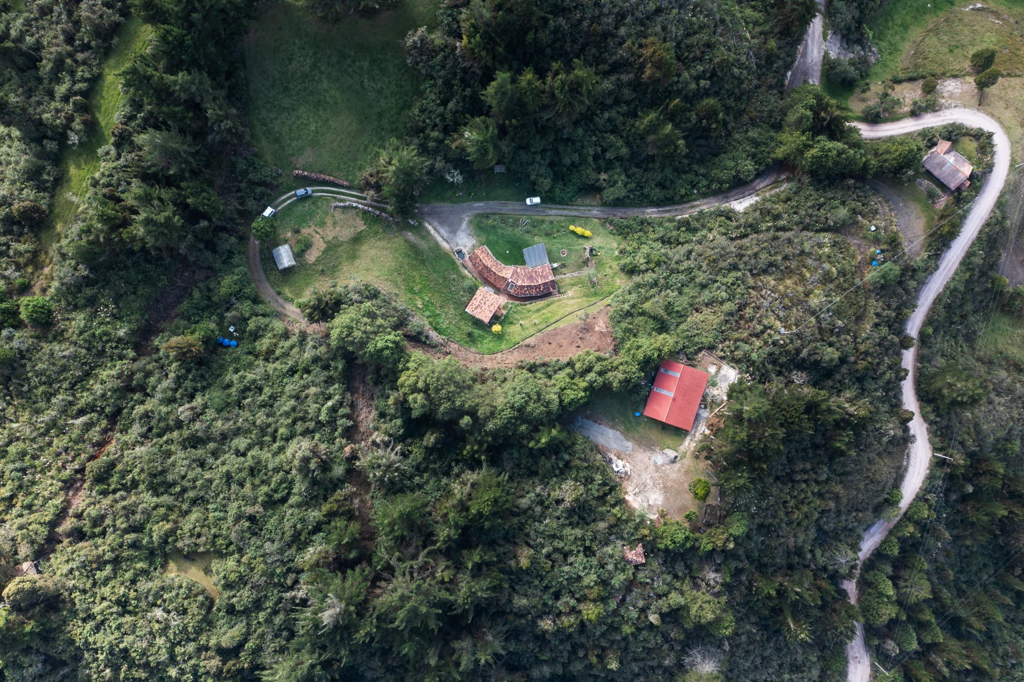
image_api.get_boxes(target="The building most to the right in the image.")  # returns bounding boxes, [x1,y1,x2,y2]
[920,139,972,190]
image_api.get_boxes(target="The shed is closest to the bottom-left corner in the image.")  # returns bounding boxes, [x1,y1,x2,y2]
[14,561,42,578]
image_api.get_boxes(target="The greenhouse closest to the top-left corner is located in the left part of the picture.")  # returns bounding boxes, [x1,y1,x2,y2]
[272,244,297,270]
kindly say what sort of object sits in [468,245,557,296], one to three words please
house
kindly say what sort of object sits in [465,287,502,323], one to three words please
shed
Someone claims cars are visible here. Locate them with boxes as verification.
[295,187,312,197]
[526,197,541,205]
[260,205,275,219]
